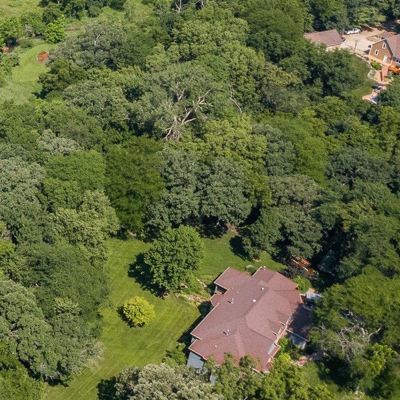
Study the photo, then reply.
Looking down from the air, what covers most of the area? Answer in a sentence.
For the most part, this view shows trees.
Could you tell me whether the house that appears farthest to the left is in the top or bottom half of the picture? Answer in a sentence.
The house that appears farthest to the left is in the bottom half of the image.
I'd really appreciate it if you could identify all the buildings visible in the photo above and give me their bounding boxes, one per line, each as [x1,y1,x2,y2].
[188,267,314,398]
[307,31,345,48]
[362,27,400,78]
